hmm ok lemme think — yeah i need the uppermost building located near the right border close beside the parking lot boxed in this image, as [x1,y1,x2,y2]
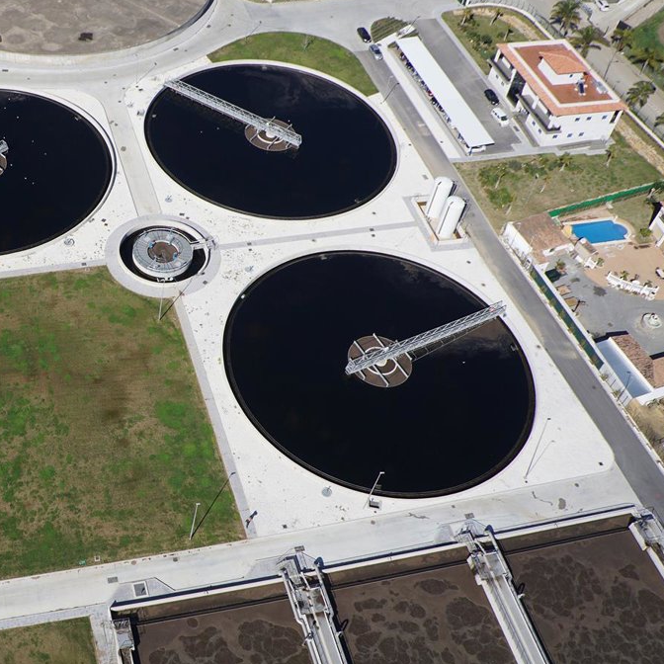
[486,37,633,146]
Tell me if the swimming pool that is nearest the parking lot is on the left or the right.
right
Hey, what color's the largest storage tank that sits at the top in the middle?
black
